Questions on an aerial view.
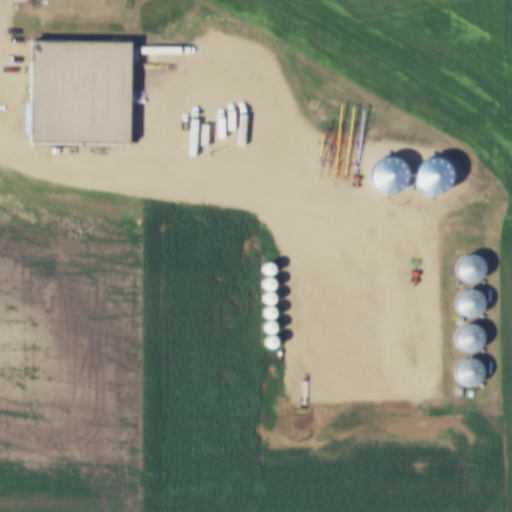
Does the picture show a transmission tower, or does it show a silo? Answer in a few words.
silo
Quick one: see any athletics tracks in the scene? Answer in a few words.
No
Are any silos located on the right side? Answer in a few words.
Yes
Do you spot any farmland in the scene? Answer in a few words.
Yes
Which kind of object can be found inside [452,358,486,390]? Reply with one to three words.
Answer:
silo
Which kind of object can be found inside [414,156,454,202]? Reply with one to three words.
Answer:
silo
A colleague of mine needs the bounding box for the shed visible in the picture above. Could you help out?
[25,40,147,146]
